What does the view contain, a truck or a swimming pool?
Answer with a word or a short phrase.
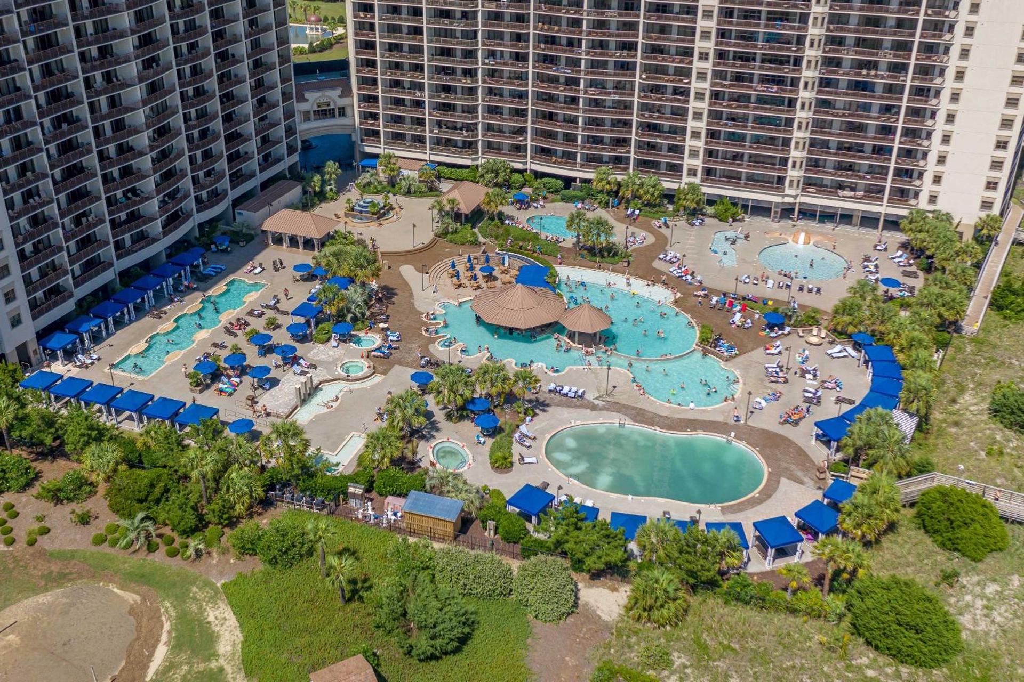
swimming pool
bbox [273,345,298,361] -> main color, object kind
blue umbrella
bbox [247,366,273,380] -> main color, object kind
blue umbrella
